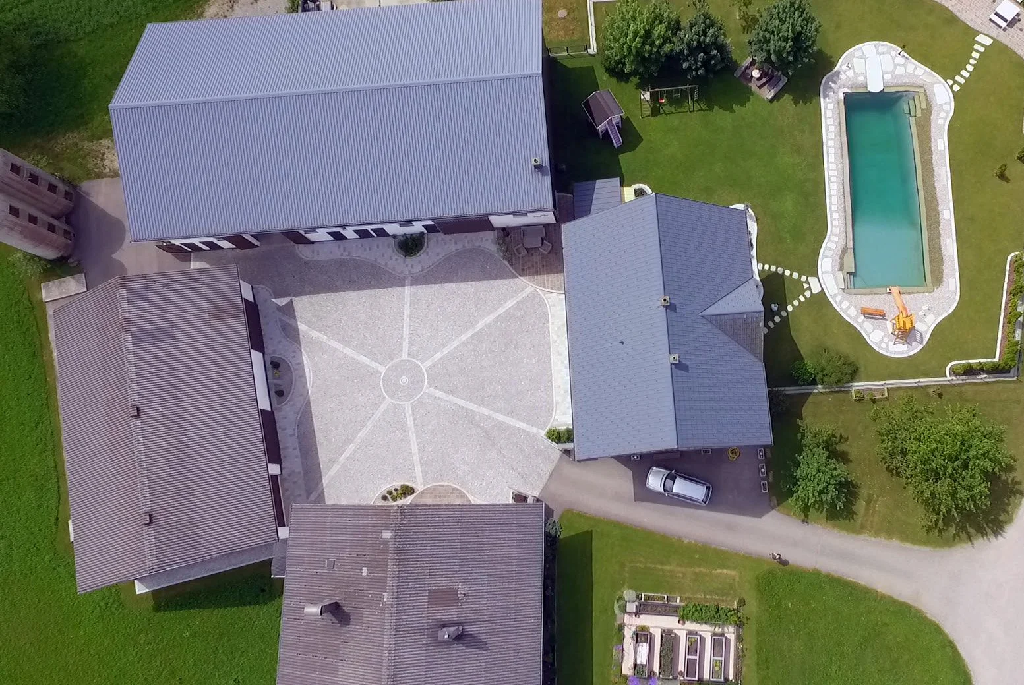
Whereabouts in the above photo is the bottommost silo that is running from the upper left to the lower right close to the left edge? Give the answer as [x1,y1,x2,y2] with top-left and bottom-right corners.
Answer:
[0,187,72,254]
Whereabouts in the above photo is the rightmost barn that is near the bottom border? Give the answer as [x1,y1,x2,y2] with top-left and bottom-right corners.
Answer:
[276,501,547,685]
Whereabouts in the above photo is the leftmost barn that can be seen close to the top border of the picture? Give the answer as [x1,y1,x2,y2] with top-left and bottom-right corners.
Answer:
[112,0,556,251]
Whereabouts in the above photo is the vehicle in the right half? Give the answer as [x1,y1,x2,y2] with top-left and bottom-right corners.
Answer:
[646,466,714,507]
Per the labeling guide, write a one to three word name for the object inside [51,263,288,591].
barn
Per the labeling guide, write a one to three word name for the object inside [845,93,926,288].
swimming pool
